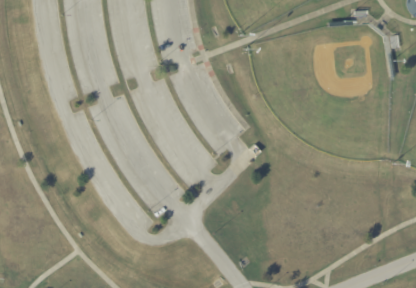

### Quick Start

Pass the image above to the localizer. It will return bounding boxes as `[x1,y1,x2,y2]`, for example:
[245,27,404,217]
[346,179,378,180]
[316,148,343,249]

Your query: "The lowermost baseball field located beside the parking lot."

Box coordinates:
[250,26,394,161]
